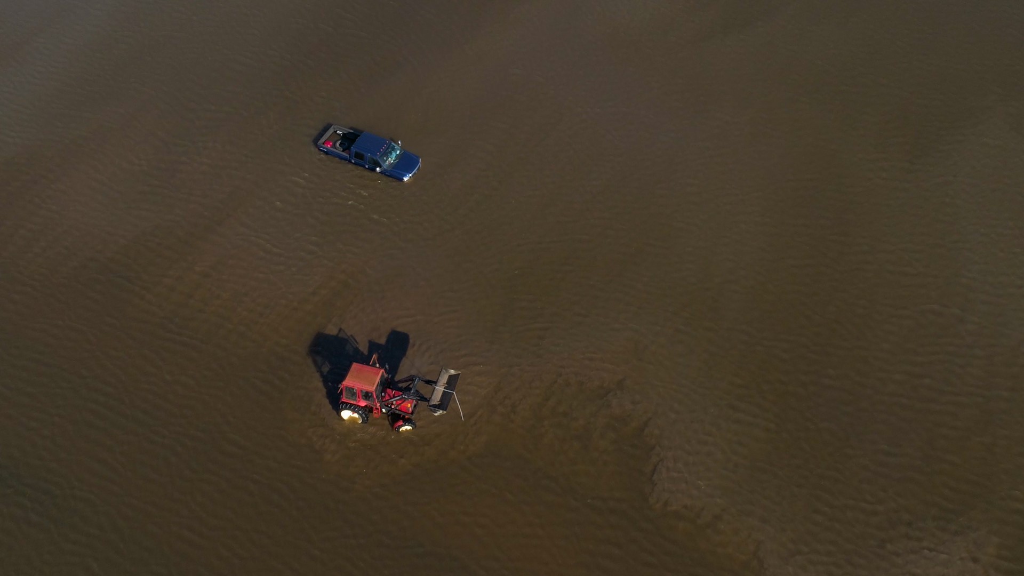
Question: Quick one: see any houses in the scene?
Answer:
No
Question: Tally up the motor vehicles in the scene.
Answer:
two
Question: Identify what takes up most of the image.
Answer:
water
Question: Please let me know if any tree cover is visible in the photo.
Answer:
No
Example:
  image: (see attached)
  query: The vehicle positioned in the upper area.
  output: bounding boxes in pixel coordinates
[317,124,424,181]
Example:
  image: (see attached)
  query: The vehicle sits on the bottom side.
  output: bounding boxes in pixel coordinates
[334,354,460,431]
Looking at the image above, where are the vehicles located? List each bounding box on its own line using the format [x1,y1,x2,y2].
[334,354,460,431]
[317,124,424,181]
